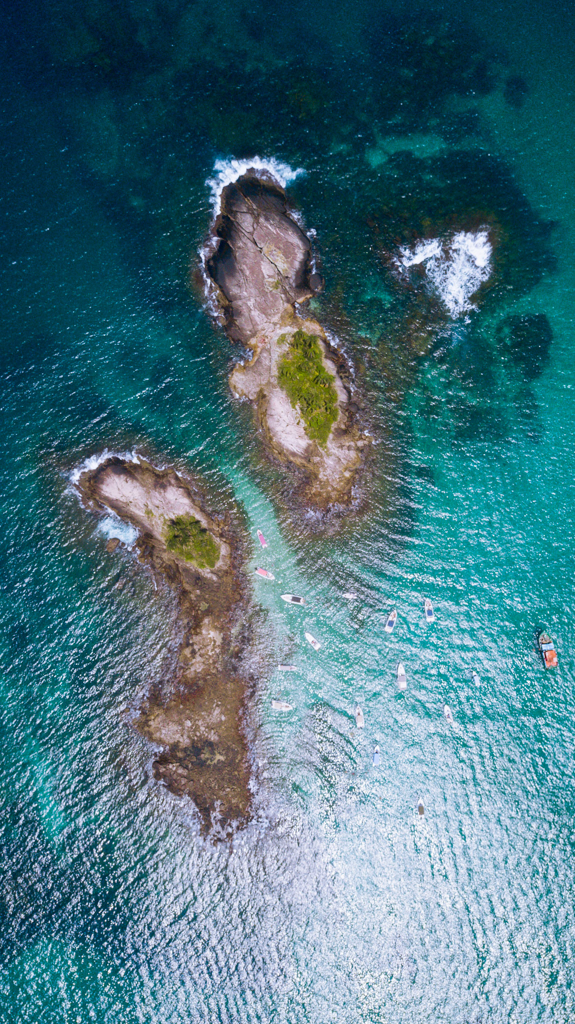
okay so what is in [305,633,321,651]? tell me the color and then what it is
white boat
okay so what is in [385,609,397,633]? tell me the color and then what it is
white boat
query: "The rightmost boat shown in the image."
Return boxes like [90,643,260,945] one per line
[541,631,559,670]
